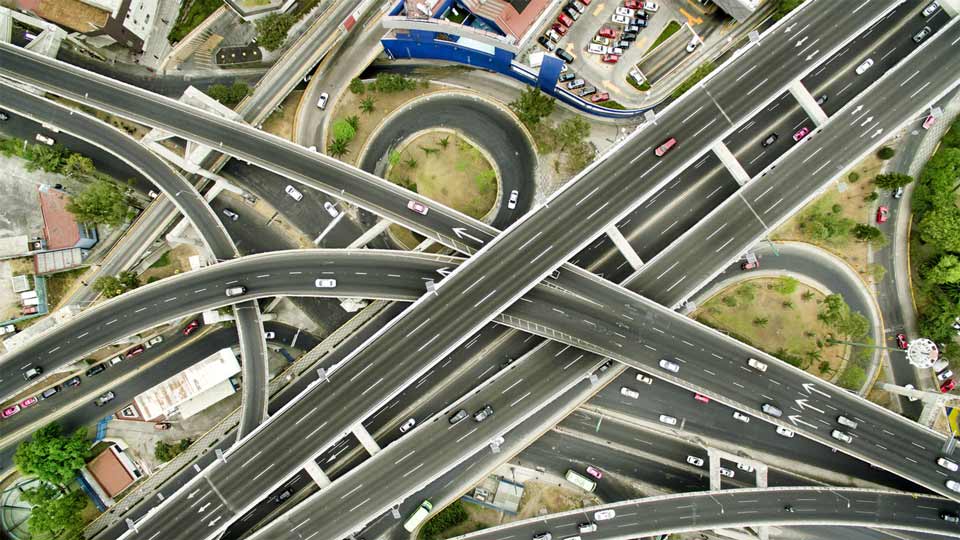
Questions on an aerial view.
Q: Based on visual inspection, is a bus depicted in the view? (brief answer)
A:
Yes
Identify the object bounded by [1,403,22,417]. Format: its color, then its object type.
pink car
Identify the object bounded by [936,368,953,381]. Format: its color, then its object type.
white vehicle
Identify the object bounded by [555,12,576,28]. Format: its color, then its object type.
red car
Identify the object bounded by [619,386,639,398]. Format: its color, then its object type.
white vehicle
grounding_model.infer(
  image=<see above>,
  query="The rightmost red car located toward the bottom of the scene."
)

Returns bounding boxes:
[937,378,956,392]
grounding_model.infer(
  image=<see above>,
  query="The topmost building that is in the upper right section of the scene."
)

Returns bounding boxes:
[705,0,763,34]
